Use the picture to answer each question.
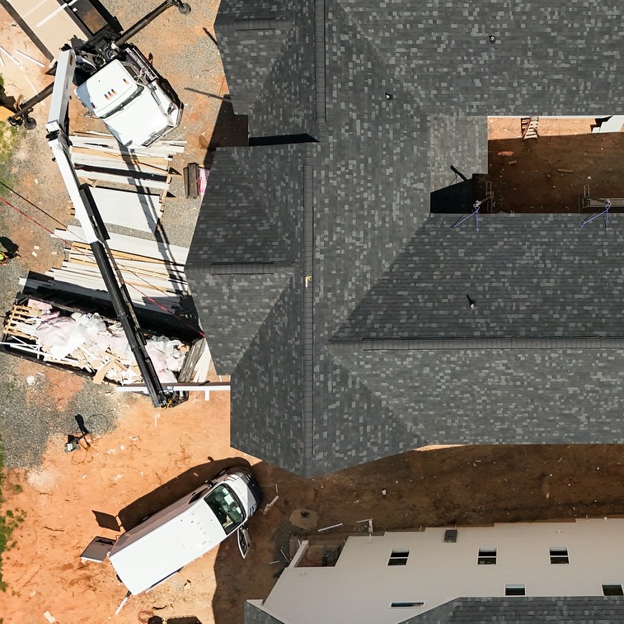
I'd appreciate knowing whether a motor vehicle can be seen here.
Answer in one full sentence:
Yes, a motor vehicle can be made out from above.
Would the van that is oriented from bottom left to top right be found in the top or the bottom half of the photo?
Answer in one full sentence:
You can find the van that is oriented from bottom left to top right in the bottom half.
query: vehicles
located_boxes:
[90,463,273,611]
[7,0,194,404]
